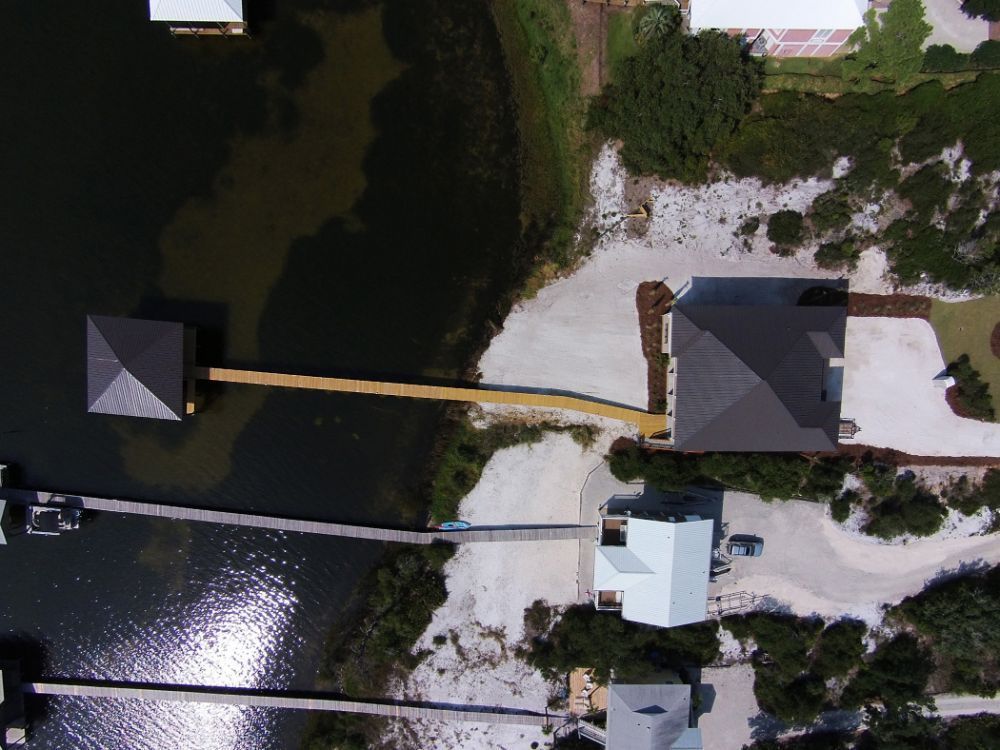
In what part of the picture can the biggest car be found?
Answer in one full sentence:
Look in the bottom right portion of the view to spot the biggest car.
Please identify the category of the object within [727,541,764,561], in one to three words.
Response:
car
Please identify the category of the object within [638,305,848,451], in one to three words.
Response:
house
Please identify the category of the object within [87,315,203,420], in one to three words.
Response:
building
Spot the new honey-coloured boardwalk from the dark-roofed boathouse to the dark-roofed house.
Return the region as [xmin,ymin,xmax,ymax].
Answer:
[192,367,639,430]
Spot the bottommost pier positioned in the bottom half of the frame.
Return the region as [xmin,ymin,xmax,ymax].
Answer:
[27,680,575,729]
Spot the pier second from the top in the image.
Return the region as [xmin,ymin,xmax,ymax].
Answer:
[0,488,595,545]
